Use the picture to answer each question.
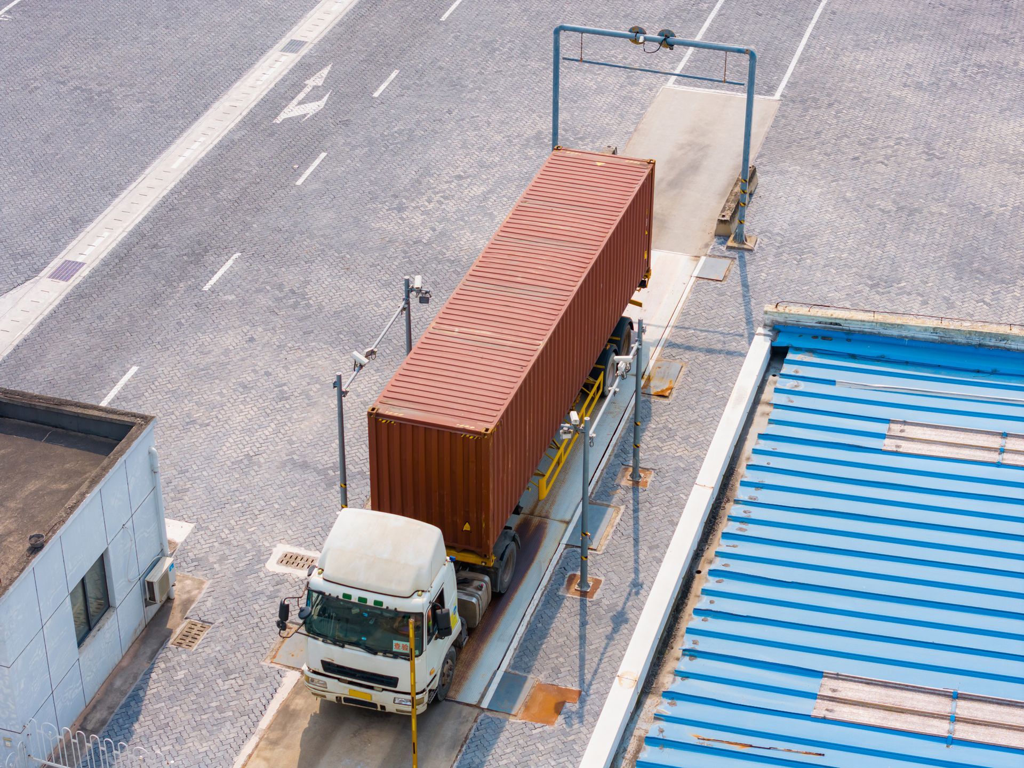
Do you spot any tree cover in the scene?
No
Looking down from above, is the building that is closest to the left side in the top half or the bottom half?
bottom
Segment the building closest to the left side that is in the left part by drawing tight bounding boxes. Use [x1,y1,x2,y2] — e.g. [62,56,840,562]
[0,387,178,768]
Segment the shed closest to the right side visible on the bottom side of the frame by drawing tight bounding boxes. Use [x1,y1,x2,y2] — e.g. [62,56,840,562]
[580,302,1024,768]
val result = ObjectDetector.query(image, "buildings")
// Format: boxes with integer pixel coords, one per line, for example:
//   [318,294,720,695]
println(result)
[580,302,1024,768]
[0,387,178,768]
